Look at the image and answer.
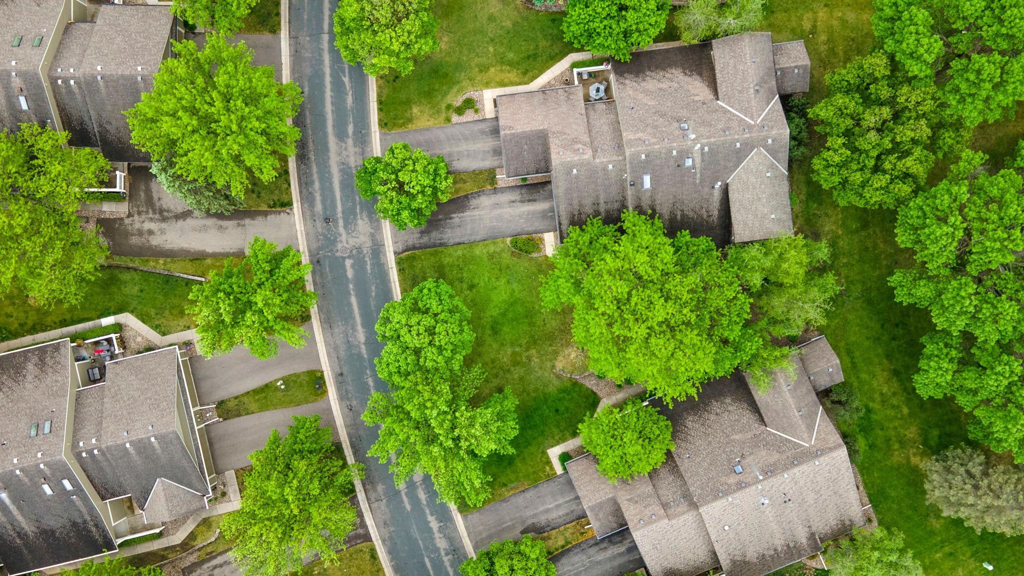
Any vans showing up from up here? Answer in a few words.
No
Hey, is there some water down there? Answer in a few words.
No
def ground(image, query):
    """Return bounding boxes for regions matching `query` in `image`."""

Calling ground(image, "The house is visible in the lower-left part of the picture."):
[0,338,220,576]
